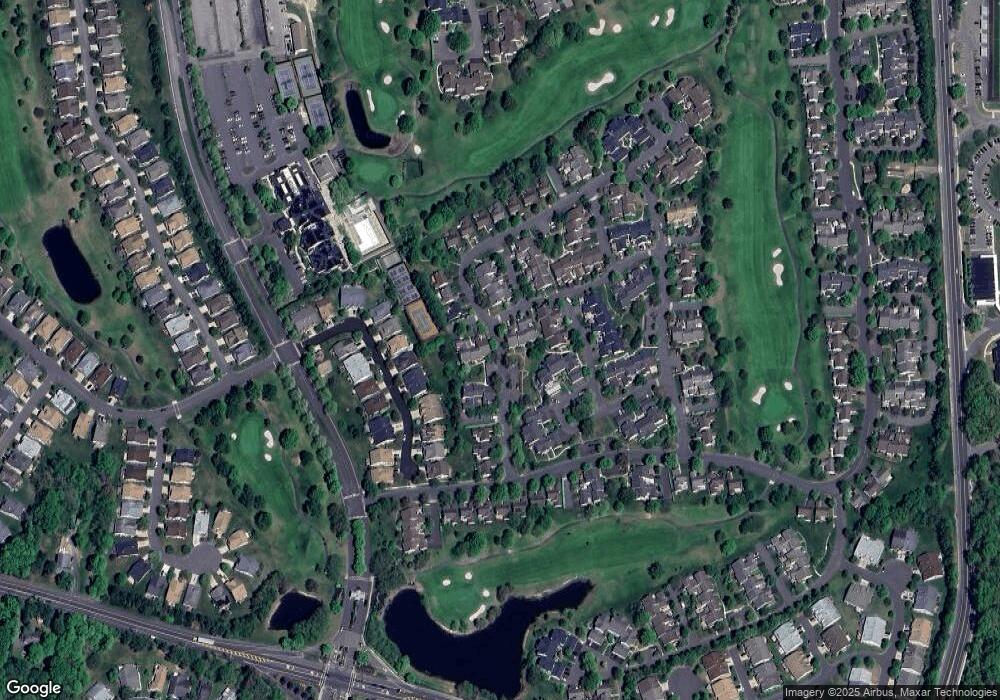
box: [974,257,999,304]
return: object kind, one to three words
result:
building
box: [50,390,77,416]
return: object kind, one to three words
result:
house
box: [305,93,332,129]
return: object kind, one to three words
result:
tennis court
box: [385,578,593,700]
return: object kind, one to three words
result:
pond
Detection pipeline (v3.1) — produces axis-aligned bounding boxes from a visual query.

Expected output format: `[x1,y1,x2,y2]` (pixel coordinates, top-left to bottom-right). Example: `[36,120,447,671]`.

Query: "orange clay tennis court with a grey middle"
[404,300,438,341]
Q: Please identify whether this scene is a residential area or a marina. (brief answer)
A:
residential area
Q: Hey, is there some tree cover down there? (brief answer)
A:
Yes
